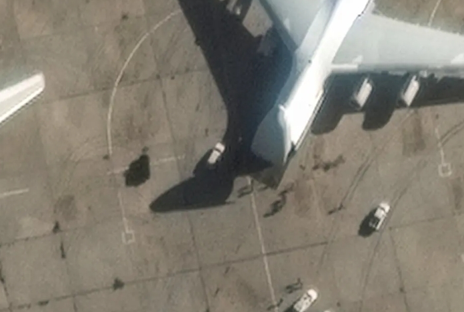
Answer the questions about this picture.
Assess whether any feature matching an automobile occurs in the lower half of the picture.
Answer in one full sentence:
Yes, looking in the lower half of the picture, one can make out an automobile.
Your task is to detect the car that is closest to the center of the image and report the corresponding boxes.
[207,138,226,168]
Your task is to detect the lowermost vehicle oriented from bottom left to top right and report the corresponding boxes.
[295,288,320,312]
